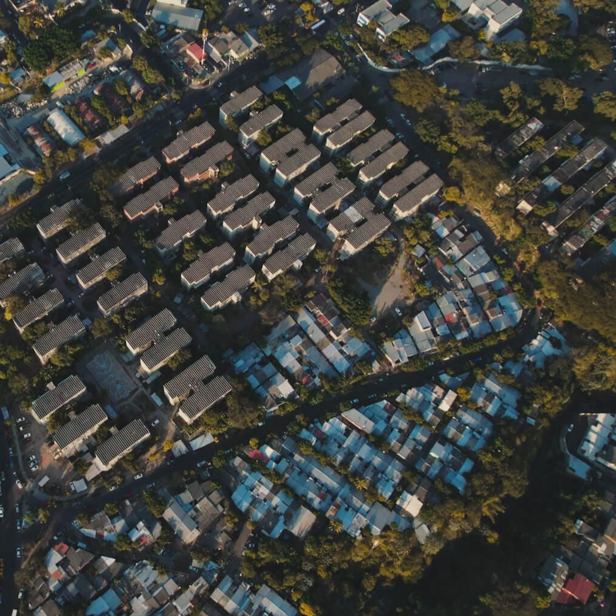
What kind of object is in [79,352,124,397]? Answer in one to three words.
sports court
